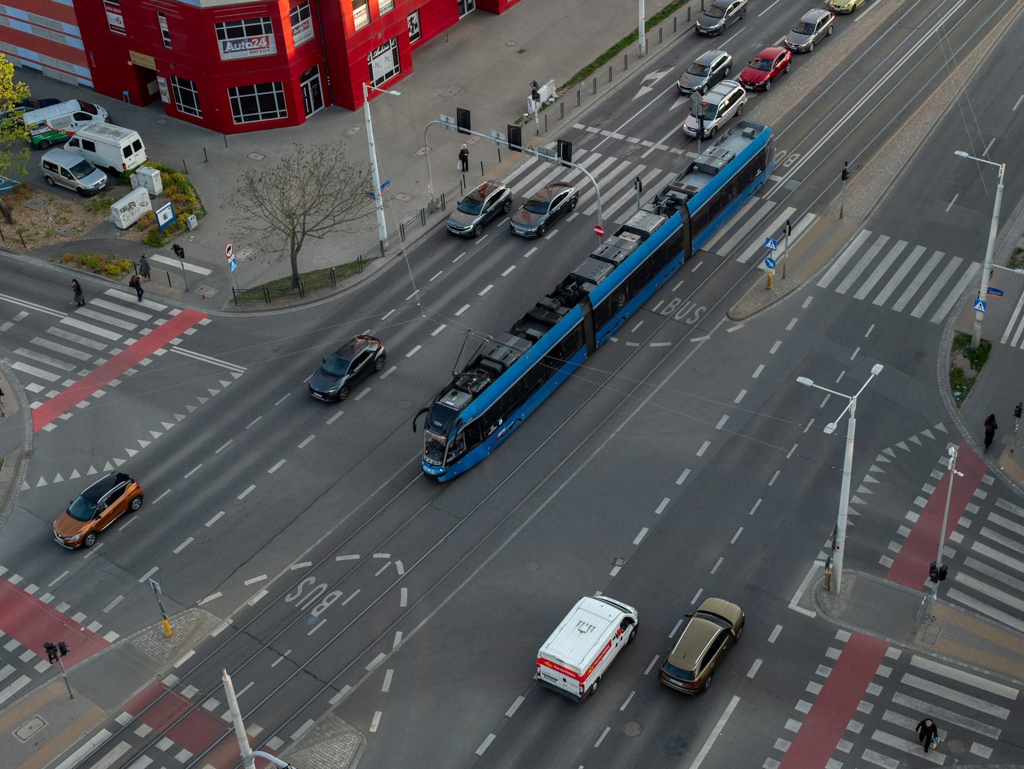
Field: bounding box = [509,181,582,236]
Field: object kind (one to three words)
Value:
car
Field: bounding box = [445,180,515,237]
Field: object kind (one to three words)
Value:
car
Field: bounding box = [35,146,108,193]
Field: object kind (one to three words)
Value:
vehicle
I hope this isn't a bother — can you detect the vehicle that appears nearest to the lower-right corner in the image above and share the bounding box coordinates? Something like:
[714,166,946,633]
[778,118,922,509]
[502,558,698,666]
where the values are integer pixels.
[655,599,745,698]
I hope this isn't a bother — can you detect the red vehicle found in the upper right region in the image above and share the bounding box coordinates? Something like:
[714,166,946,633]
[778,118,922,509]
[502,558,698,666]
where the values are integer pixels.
[739,46,796,90]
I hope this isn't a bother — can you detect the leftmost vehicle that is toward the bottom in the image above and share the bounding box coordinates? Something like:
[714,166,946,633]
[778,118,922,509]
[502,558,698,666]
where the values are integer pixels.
[49,471,145,548]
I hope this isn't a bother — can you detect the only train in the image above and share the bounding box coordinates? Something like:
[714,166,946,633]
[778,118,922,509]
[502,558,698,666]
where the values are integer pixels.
[402,124,771,482]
